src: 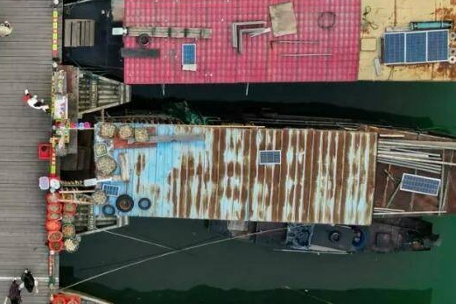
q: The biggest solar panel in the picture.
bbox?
[382,28,450,66]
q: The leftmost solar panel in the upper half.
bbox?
[181,43,196,66]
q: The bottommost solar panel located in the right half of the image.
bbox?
[399,172,442,196]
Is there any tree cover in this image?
No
